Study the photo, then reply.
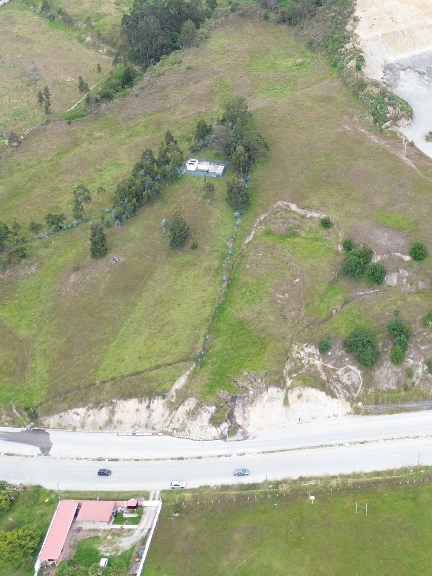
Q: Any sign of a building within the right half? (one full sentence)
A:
No, I can find no building within the right half.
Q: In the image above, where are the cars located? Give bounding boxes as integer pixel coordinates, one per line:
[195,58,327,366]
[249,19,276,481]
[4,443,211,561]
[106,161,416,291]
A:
[234,470,249,477]
[95,469,113,477]
[95,555,112,574]
[169,481,185,489]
